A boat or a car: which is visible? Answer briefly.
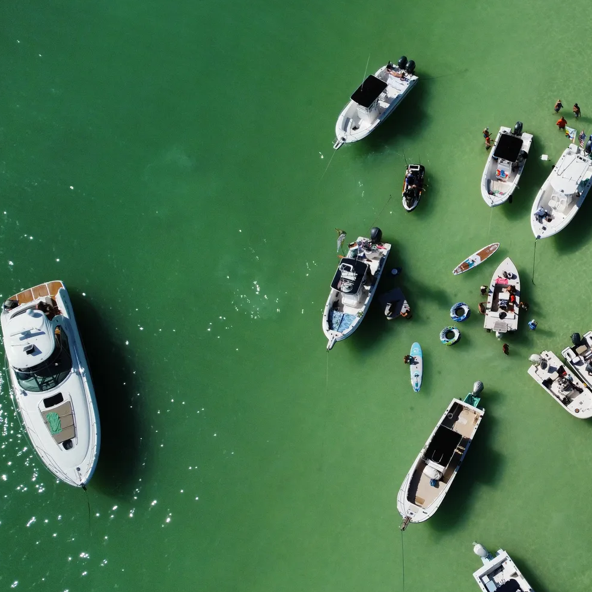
boat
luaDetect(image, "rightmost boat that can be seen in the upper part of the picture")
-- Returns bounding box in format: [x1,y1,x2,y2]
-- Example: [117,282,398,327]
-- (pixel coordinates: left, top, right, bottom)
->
[530,136,592,282]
